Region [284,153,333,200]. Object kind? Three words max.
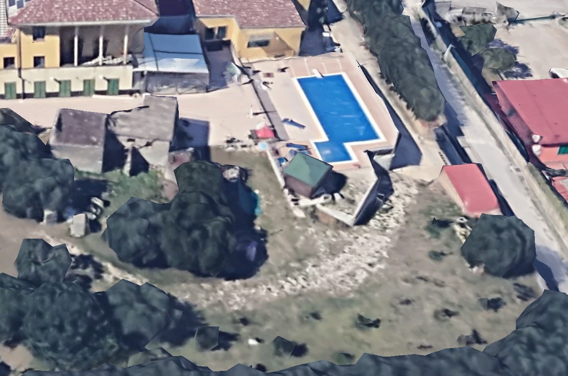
shed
